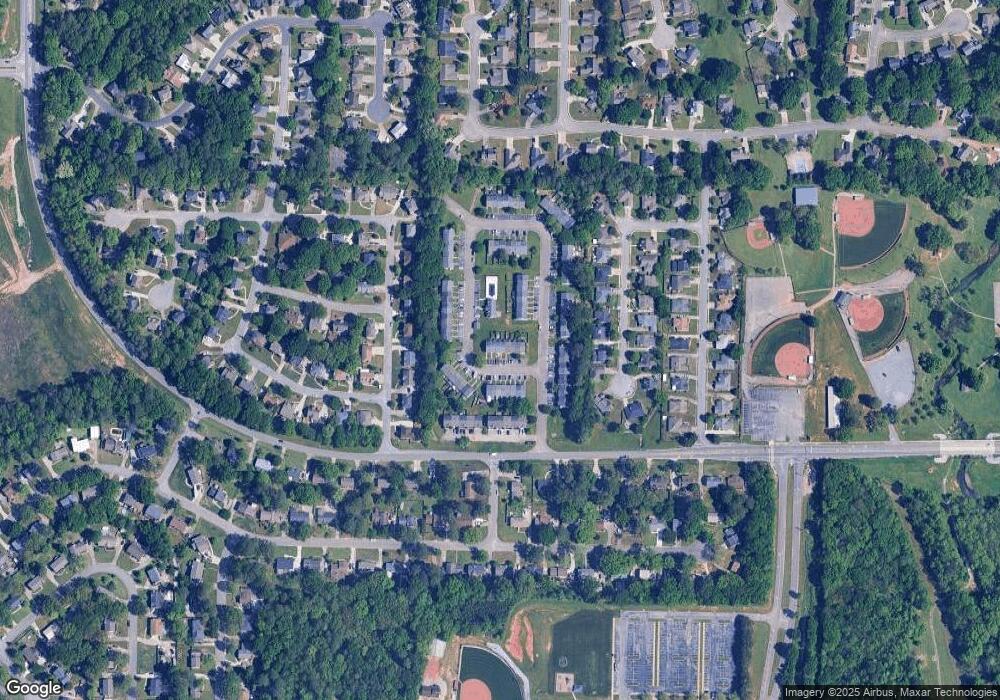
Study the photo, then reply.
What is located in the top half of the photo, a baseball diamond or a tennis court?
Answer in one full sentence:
The one visible in the top half of the photo is a baseball diamond.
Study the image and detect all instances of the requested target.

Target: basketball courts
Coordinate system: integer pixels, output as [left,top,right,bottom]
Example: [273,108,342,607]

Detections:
[788,150,811,173]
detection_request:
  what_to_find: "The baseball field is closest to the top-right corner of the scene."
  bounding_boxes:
[838,194,908,269]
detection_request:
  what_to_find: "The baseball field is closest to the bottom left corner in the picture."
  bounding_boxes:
[461,645,523,700]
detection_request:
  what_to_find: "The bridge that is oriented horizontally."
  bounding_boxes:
[934,435,1000,461]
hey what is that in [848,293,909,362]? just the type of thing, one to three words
baseball field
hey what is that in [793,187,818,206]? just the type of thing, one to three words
building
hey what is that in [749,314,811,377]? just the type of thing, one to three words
baseball field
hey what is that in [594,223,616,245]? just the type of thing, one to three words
house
